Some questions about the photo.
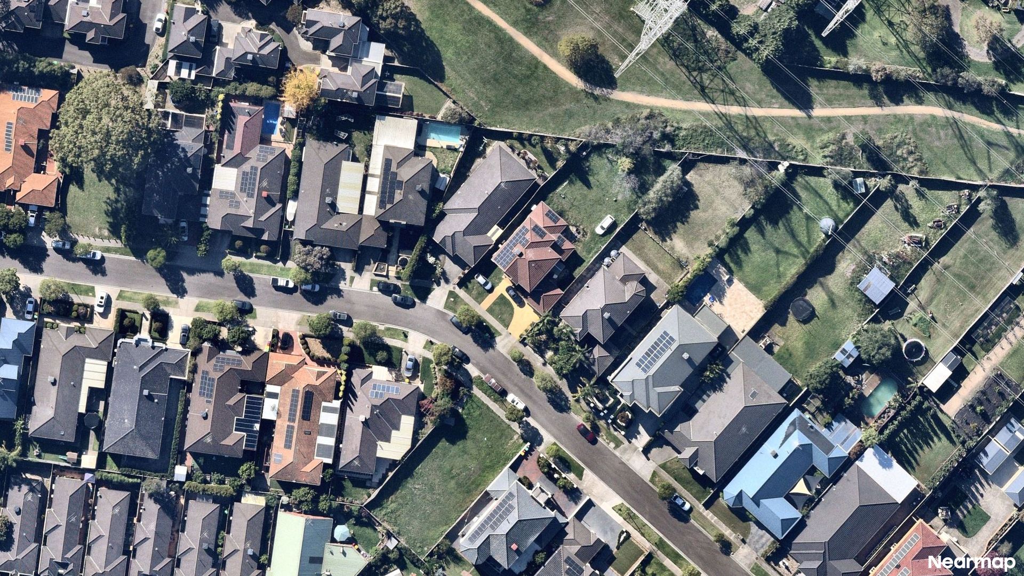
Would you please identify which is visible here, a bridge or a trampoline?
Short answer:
trampoline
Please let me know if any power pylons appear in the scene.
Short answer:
Yes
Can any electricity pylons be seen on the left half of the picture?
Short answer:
No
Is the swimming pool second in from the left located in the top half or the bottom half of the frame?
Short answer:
top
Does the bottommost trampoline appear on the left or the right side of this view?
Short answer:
right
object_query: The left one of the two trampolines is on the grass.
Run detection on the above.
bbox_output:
[790,296,815,322]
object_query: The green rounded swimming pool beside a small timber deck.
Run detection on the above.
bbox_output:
[859,377,900,419]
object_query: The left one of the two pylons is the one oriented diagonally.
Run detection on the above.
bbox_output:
[616,0,714,76]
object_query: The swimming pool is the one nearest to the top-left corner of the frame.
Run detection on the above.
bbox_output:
[261,101,282,136]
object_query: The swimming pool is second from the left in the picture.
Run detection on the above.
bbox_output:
[426,122,462,145]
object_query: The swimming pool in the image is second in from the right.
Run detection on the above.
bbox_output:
[685,272,718,308]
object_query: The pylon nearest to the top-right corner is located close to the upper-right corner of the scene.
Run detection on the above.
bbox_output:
[822,0,863,37]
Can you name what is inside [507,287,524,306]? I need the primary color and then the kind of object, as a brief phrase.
black car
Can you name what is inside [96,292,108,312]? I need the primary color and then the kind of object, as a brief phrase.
white vehicle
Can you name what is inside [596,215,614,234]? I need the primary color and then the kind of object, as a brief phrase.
white car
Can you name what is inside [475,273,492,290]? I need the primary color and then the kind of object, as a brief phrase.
white car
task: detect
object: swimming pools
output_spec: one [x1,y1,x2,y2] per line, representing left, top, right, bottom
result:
[426,122,462,145]
[261,101,282,136]
[685,272,718,308]
[859,377,900,419]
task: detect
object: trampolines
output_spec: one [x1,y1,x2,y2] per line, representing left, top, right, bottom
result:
[903,339,925,361]
[790,296,815,322]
